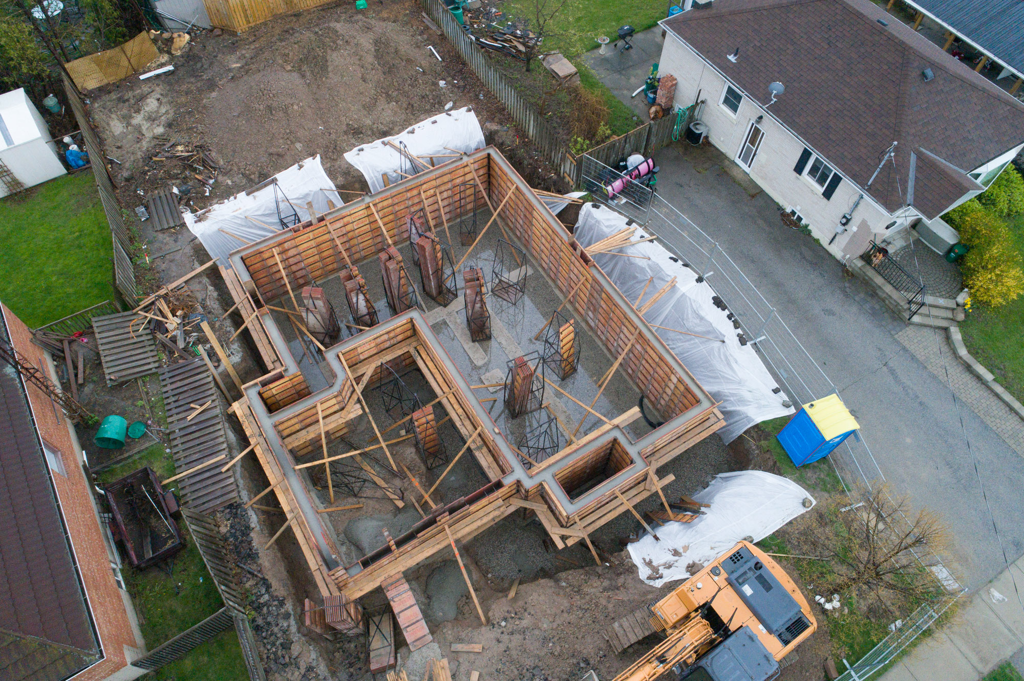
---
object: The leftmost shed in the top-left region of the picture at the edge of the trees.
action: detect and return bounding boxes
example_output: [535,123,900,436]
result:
[0,88,67,197]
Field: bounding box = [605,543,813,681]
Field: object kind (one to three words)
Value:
work vehicle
